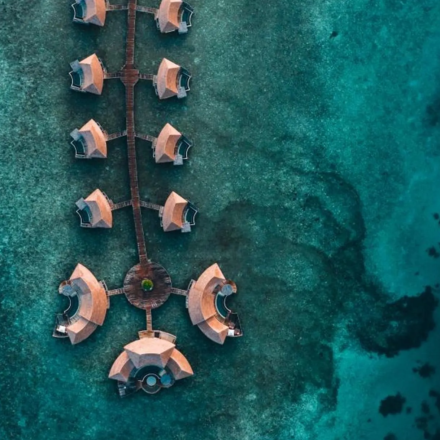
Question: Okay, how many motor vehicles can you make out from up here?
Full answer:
Not a single motor vehicle can be seen.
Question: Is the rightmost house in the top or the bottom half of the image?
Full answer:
It is in the bottom half that the rightmost house appears.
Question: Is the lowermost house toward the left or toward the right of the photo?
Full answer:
You can find the lowermost house on the left side of the picture.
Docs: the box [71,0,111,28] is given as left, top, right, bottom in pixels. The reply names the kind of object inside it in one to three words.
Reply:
house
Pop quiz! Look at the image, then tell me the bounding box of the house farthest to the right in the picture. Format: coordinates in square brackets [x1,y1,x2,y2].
[185,263,242,345]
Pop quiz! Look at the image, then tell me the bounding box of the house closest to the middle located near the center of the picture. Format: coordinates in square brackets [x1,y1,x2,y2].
[158,191,199,232]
